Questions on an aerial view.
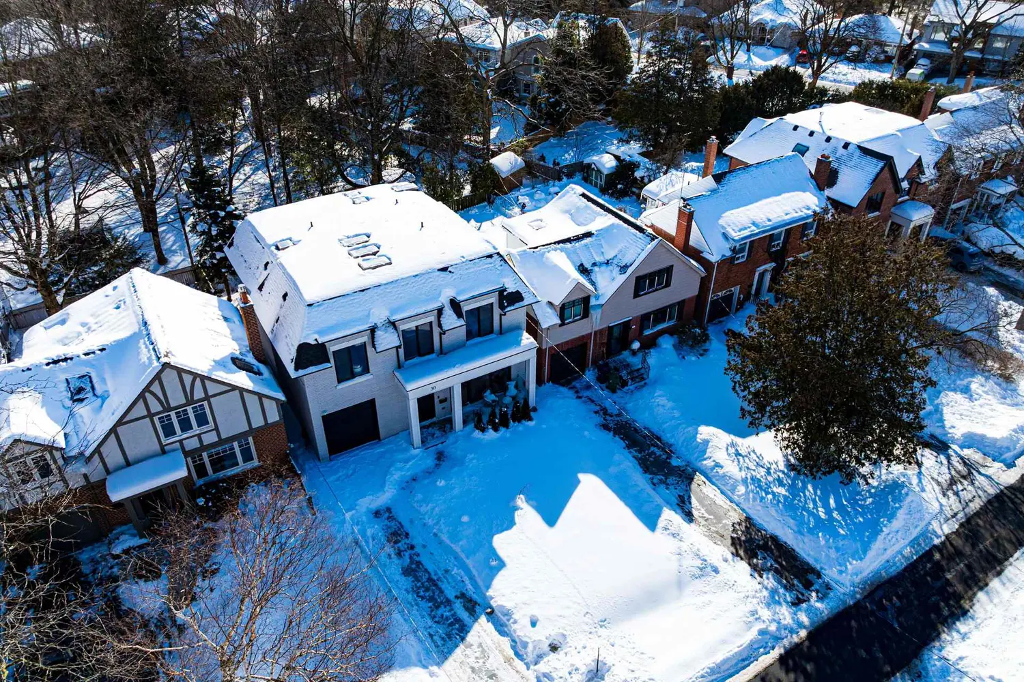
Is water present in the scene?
No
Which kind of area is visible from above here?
residential area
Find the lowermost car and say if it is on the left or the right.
right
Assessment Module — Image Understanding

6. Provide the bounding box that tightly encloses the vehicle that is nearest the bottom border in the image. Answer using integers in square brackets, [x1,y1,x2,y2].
[907,227,986,270]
